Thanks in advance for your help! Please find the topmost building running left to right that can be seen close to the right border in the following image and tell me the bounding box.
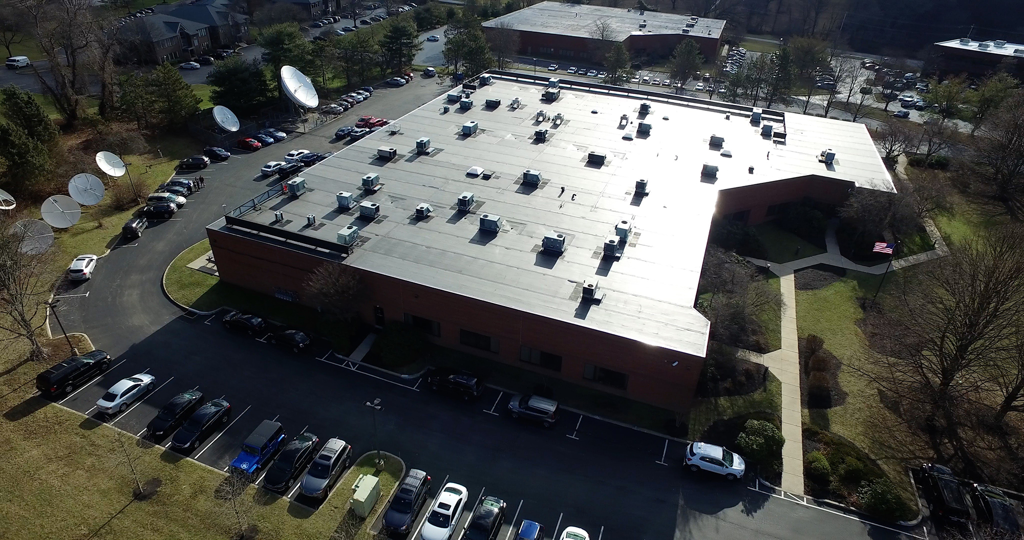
[924,39,1024,87]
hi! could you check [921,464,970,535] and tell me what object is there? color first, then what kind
black car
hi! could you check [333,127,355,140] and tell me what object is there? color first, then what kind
black vehicle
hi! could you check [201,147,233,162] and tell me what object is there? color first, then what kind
black car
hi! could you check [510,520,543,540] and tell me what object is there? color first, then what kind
blue car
